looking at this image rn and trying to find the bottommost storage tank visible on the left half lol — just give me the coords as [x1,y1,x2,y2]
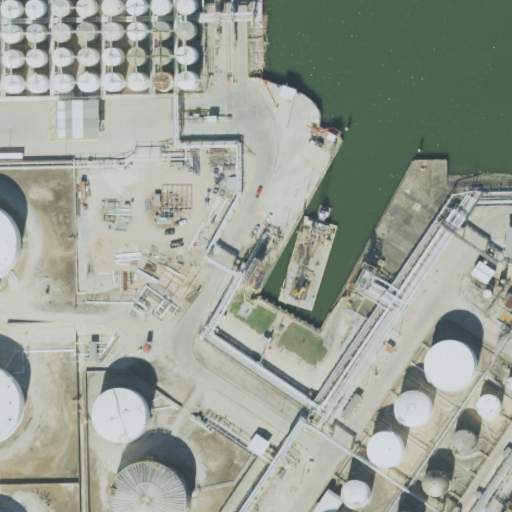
[110,458,190,512]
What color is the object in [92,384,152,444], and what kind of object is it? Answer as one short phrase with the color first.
white storage tank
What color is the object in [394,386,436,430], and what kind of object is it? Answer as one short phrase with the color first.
white storage tank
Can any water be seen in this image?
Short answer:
Yes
